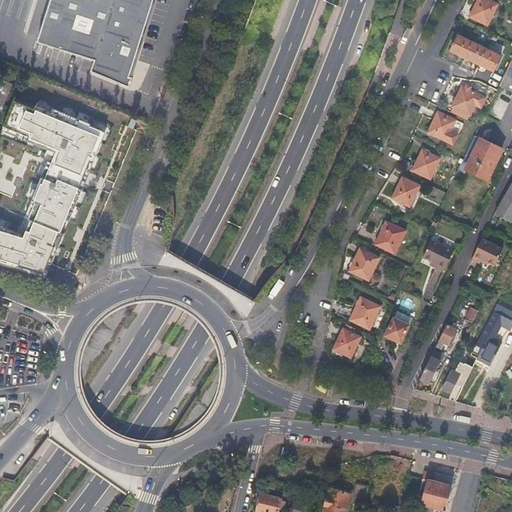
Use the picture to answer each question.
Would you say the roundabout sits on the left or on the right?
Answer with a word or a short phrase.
left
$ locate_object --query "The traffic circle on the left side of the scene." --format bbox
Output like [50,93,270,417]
[50,273,250,472]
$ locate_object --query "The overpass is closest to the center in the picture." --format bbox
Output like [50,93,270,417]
[154,248,255,318]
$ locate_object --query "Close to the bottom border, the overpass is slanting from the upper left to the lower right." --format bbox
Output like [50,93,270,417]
[42,414,144,497]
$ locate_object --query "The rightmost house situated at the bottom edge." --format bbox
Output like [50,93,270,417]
[420,478,454,512]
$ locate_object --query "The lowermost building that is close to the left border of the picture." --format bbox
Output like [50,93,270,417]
[0,220,64,274]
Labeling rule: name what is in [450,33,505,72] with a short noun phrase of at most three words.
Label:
house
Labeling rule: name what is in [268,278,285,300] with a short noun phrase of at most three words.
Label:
vehicle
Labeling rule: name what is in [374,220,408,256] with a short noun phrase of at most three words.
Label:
house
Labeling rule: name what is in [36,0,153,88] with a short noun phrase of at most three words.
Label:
building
